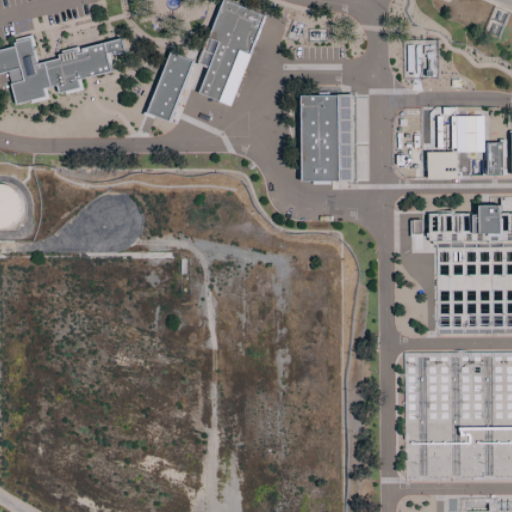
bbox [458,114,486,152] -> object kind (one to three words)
building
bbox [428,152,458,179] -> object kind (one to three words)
building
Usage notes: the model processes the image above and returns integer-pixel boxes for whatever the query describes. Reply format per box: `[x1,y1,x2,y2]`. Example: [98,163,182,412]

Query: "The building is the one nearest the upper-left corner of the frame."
[0,34,124,104]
